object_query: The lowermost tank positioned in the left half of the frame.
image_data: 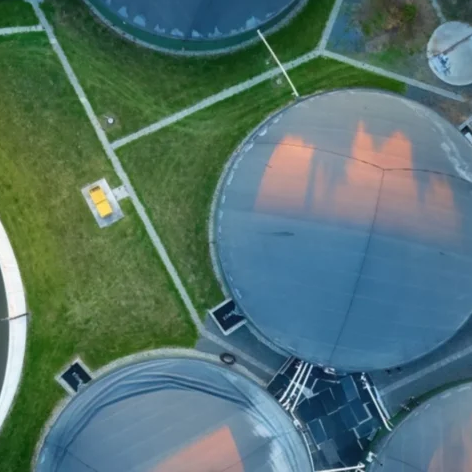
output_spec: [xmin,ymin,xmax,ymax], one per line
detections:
[34,351,314,472]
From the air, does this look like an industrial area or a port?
industrial area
